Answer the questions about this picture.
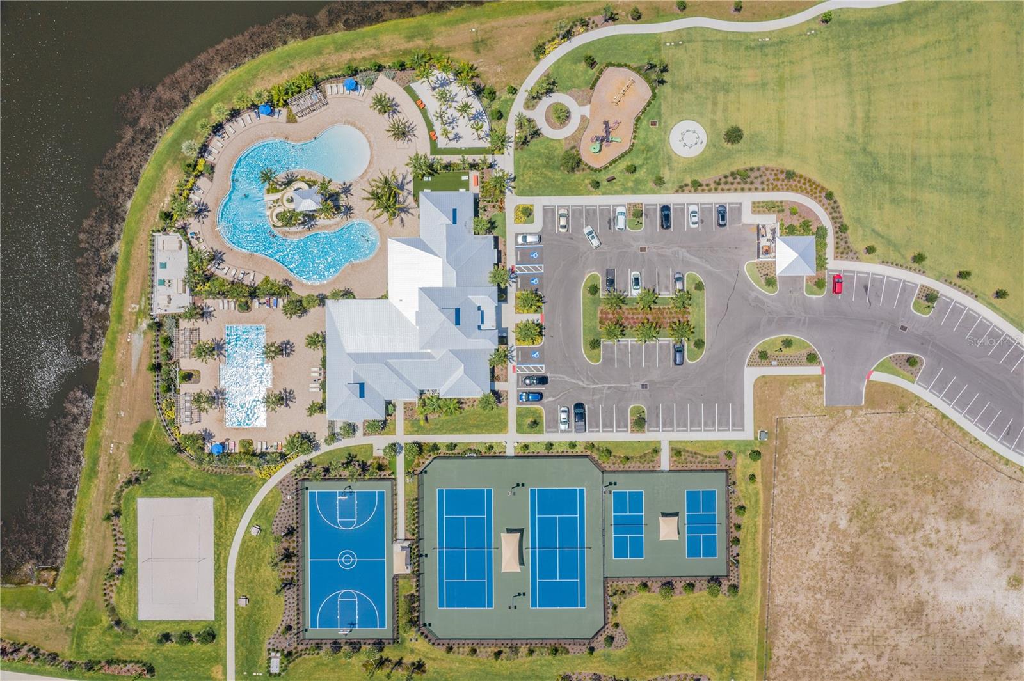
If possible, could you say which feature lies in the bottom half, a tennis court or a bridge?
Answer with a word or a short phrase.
tennis court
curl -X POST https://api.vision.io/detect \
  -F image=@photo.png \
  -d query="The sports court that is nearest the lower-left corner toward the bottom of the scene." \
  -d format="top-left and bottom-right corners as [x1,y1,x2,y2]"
[137,498,214,621]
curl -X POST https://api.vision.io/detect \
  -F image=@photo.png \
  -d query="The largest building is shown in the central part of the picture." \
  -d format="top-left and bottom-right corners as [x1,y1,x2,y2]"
[326,192,498,420]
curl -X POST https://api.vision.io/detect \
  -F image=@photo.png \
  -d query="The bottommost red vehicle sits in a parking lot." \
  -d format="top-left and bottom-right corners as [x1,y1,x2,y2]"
[832,273,844,294]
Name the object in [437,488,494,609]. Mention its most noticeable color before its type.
blue tennis court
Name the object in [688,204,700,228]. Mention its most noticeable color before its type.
white vehicle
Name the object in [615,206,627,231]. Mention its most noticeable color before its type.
white vehicle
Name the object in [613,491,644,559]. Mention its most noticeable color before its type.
blue sports court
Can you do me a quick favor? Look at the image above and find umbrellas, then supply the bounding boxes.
[343,77,356,90]
[259,103,271,115]
[211,442,224,455]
